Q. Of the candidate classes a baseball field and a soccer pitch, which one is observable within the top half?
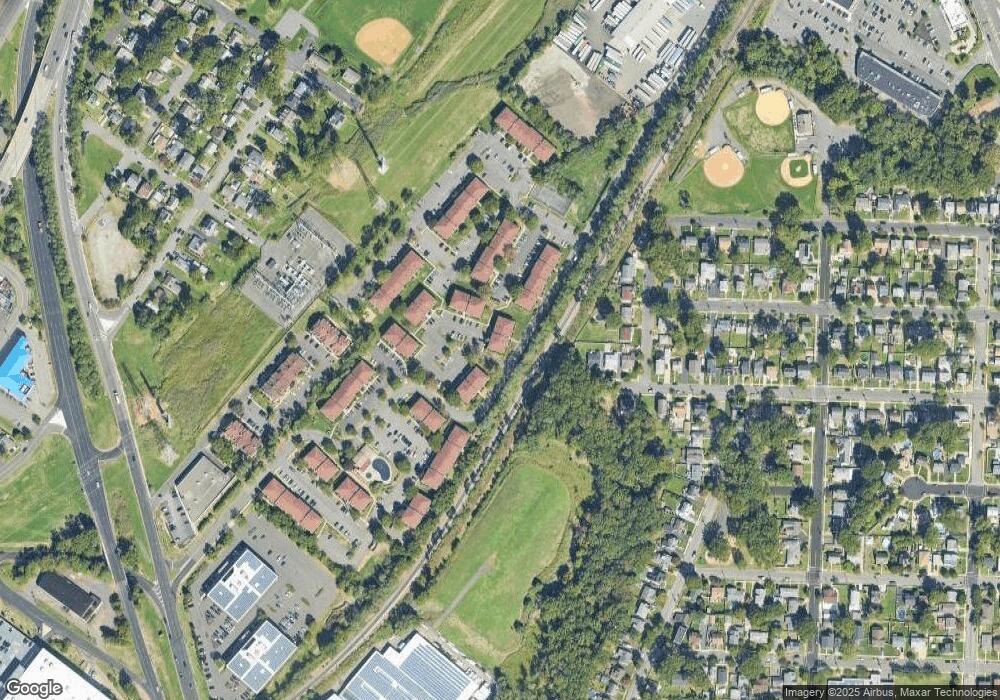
baseball field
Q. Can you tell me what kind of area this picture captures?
residential area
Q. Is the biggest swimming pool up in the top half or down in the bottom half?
bottom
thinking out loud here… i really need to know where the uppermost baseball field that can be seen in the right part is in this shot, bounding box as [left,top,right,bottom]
[757,89,790,127]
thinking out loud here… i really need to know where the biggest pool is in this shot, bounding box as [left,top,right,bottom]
[362,455,393,482]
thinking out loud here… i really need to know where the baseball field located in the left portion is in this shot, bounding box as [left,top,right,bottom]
[356,17,412,68]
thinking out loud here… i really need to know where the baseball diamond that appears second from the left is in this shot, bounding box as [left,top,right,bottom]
[704,145,744,187]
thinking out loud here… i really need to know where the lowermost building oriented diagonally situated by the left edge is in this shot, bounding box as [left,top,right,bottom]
[36,571,100,620]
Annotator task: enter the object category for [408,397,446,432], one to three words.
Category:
building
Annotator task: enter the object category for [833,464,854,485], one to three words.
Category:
house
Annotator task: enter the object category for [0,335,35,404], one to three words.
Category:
building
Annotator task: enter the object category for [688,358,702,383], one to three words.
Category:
house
